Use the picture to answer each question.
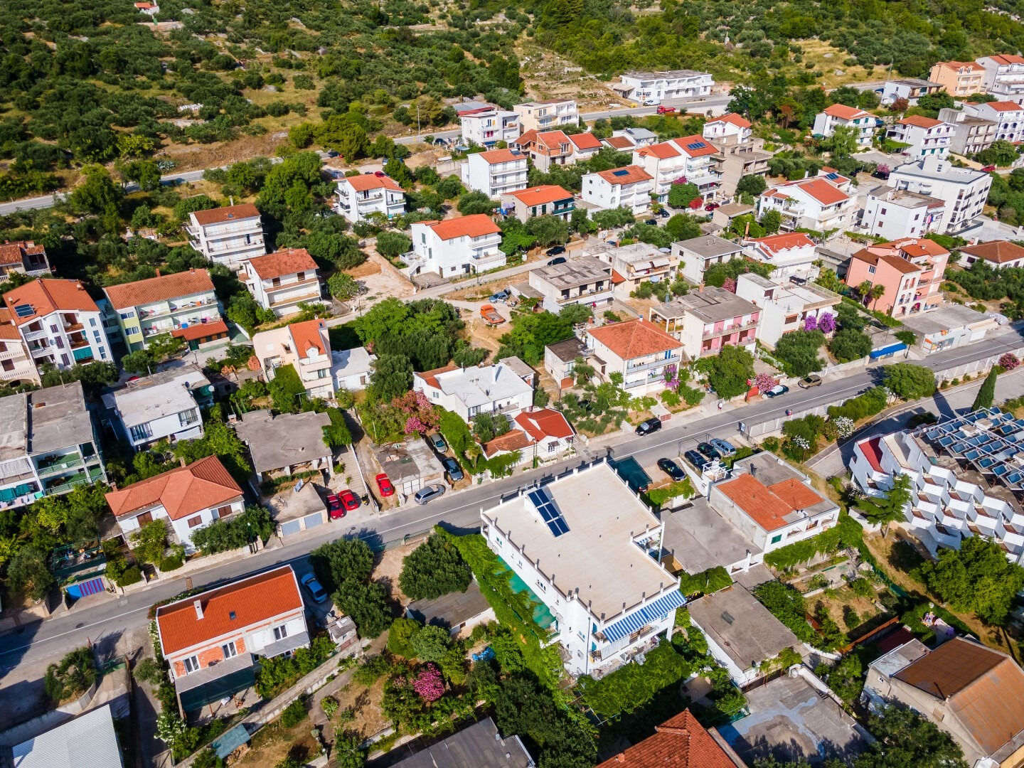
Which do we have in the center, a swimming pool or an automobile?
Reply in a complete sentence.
It is an automobile that can be seen in the center.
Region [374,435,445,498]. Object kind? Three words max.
building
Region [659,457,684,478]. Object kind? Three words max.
car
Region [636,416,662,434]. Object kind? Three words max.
vehicle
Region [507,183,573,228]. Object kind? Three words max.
house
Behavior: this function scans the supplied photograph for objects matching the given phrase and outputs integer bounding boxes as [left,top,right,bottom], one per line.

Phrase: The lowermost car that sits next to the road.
[302,573,326,600]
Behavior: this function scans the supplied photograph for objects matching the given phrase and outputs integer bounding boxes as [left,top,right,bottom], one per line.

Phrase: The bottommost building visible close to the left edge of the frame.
[12,703,130,768]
